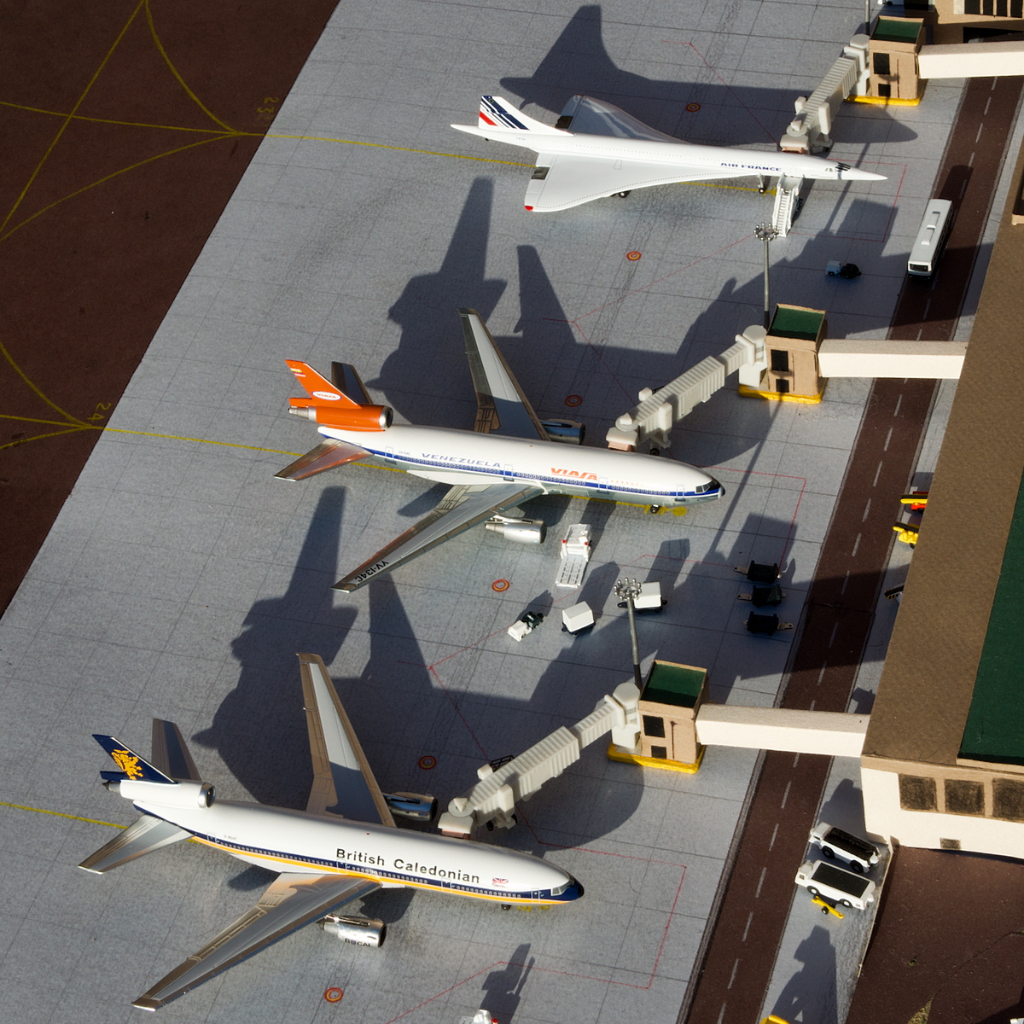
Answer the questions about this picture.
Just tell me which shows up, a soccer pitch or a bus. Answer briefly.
bus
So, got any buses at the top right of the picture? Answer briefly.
Yes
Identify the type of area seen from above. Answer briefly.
airport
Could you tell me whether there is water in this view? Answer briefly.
No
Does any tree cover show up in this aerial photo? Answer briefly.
No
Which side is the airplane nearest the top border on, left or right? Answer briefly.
right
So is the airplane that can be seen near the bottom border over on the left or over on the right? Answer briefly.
left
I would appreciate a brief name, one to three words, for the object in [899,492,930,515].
work vehicle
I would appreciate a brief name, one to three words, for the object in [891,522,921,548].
work vehicle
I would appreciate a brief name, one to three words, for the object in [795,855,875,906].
truck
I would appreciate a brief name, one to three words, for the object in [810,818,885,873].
truck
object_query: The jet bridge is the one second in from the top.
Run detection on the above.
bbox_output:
[606,324,767,456]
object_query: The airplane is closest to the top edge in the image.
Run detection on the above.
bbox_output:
[451,94,887,211]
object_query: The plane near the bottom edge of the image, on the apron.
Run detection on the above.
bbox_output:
[79,653,584,1011]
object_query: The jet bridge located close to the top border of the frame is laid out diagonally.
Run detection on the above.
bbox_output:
[782,33,870,157]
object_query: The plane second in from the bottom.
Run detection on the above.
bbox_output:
[274,308,725,591]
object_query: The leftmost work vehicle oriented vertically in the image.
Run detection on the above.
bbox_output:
[554,516,596,590]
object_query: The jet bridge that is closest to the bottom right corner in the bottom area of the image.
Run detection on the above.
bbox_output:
[437,681,642,843]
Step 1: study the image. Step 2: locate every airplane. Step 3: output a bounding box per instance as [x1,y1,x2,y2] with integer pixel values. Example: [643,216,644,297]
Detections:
[274,308,725,591]
[79,653,584,1011]
[451,94,887,211]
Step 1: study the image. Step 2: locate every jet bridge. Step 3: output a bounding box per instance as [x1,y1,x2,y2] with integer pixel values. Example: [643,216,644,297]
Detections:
[782,33,870,157]
[437,681,642,843]
[606,324,767,456]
